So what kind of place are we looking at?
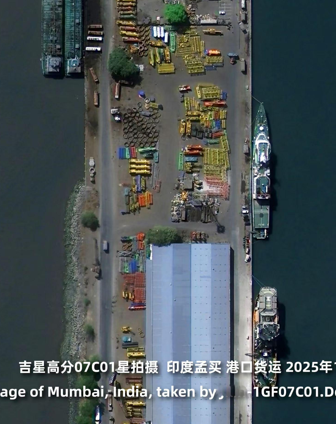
port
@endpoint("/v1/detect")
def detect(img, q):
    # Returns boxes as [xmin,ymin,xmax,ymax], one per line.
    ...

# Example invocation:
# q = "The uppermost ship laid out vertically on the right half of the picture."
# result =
[252,102,270,238]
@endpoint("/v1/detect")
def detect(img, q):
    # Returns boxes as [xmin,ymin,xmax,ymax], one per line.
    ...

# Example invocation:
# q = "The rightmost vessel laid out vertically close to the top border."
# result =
[65,0,81,76]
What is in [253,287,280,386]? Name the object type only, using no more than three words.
ship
